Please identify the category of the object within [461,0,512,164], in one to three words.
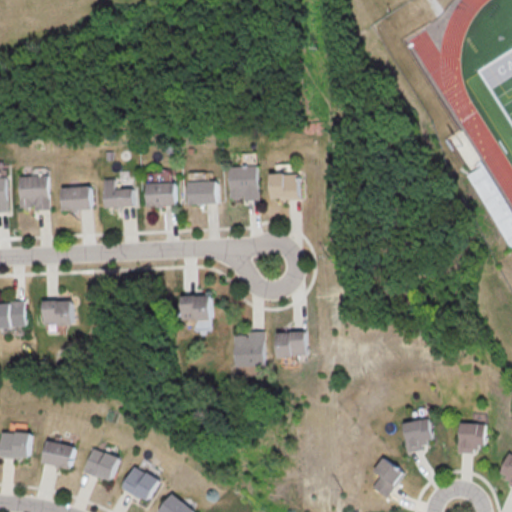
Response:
sports field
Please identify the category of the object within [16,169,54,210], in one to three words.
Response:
house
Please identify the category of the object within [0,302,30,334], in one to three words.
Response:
house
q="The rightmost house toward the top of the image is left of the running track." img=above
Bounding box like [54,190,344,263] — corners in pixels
[268,165,301,200]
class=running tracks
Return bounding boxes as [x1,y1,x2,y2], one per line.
[404,0,512,210]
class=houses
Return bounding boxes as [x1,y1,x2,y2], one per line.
[102,171,141,208]
[458,412,494,454]
[123,462,168,501]
[232,330,268,367]
[403,419,434,454]
[16,169,54,210]
[143,169,177,209]
[498,452,512,486]
[157,492,204,512]
[178,296,212,327]
[0,424,34,460]
[268,165,301,200]
[84,448,126,481]
[370,456,404,497]
[41,436,80,470]
[274,332,310,368]
[39,301,74,336]
[58,185,92,212]
[226,154,262,200]
[0,302,30,334]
